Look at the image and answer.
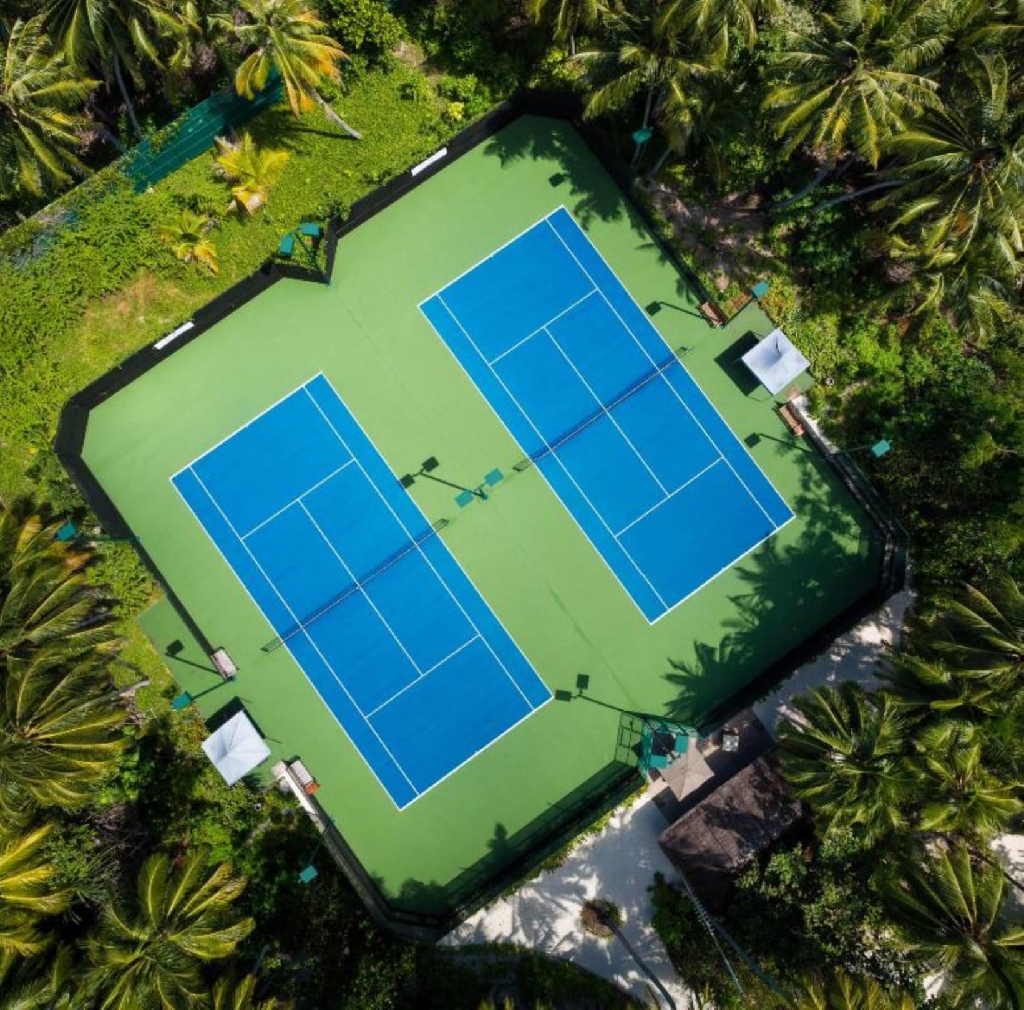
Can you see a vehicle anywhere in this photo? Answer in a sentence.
No, I can't see a single vehicle in this photo.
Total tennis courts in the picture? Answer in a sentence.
There are 2 tennis courts in the image.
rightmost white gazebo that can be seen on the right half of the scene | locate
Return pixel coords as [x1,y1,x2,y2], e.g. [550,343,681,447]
[730,331,808,404]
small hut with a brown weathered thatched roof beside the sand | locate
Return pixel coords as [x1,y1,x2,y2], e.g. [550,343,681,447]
[655,750,812,896]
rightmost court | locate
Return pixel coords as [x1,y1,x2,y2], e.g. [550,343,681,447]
[418,206,796,625]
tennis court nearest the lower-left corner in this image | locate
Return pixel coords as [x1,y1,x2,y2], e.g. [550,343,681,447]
[170,373,553,810]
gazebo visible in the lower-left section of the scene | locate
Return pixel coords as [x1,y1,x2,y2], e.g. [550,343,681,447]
[204,706,284,784]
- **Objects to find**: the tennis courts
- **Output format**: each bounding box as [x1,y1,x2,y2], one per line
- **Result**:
[418,206,796,625]
[170,373,553,810]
